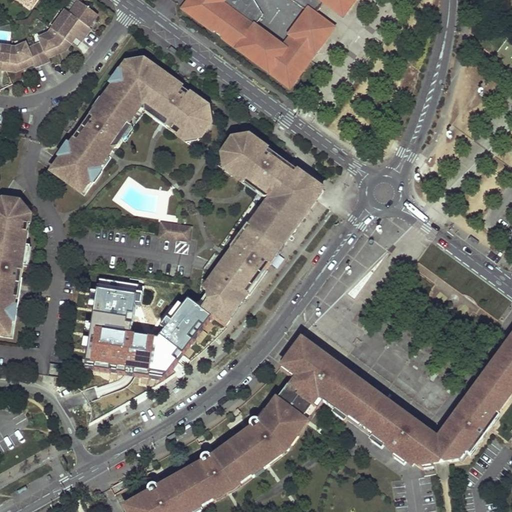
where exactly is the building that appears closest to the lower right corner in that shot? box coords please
[278,330,512,480]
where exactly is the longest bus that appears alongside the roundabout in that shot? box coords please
[404,198,430,224]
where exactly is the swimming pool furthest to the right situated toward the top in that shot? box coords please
[112,176,178,222]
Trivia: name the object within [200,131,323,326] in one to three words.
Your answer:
house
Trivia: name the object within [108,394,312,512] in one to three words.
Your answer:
house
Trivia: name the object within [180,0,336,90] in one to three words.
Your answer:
building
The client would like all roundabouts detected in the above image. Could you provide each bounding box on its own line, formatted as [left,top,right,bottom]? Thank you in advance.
[358,164,410,216]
